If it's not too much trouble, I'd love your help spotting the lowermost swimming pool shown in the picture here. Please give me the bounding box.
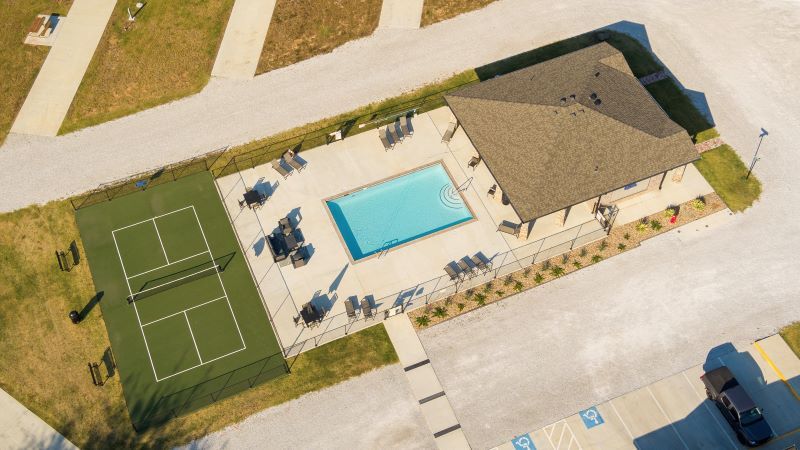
[323,159,478,264]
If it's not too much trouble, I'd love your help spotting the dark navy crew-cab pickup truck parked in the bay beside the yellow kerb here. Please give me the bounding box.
[698,365,773,450]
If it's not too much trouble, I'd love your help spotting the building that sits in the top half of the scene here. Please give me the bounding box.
[441,44,704,241]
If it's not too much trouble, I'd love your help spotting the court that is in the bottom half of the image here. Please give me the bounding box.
[76,168,291,430]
